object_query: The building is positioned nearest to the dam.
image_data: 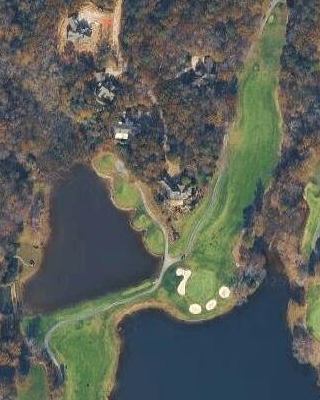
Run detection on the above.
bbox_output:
[166,184,196,209]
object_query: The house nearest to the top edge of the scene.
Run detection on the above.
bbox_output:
[67,17,95,41]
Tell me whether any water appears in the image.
Yes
